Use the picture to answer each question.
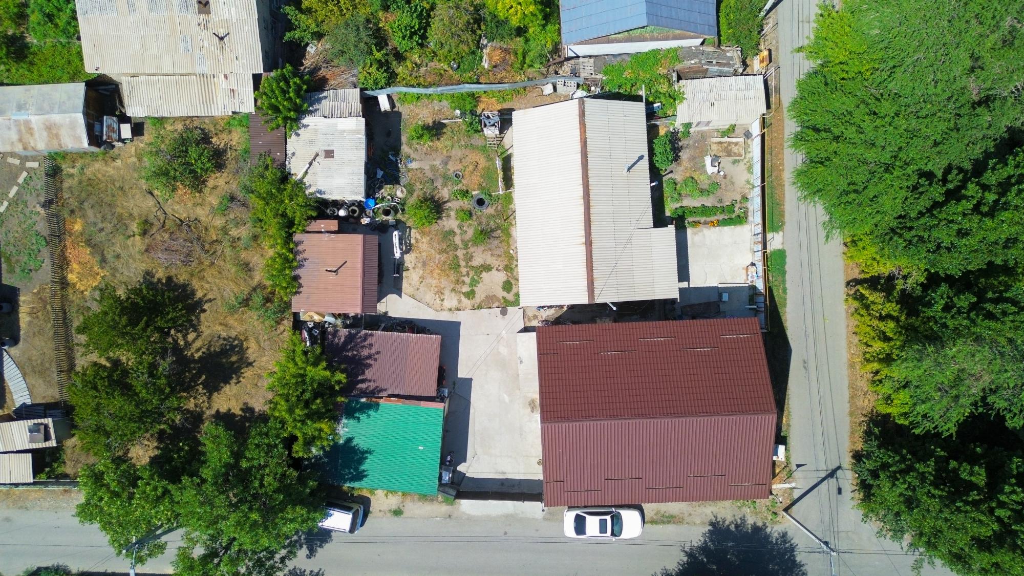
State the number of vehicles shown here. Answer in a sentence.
In total, there are 2 vehicles in the scene.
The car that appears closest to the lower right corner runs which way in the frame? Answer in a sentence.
I'd say the car that appears closest to the lower right corner is aligned from left to right in the picture.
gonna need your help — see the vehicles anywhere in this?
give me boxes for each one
[305,497,361,535]
[564,505,644,543]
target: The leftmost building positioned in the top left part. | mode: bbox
[0,82,103,159]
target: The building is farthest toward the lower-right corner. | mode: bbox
[535,317,780,507]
